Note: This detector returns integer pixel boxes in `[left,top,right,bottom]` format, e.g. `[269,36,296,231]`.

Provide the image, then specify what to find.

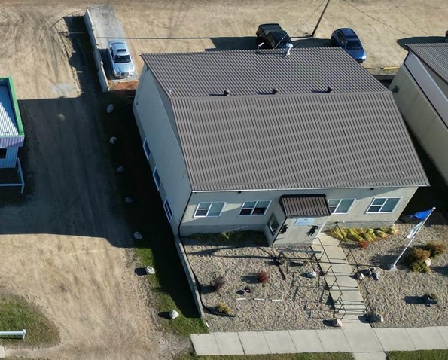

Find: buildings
[389,42,448,179]
[0,79,26,168]
[126,48,428,249]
